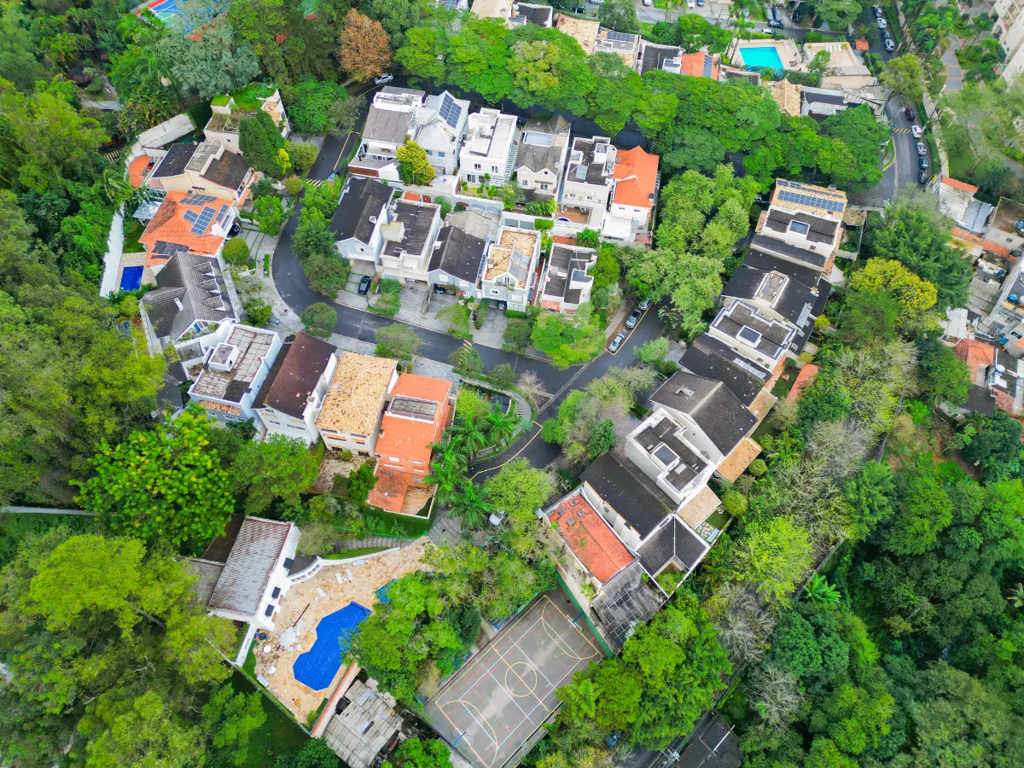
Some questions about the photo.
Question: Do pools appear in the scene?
Yes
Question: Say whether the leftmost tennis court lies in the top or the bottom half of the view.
top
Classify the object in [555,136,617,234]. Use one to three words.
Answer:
house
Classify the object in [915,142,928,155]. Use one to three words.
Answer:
vehicle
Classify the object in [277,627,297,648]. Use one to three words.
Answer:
umbrella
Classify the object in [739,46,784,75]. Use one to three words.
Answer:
swimming pool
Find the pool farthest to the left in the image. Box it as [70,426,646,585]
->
[118,264,145,293]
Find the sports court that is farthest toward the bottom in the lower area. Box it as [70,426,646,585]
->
[435,596,598,768]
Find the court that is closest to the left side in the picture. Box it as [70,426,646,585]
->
[145,0,240,37]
